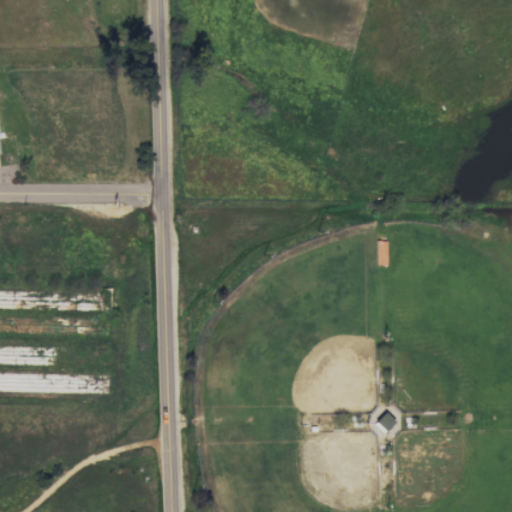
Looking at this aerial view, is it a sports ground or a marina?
sports ground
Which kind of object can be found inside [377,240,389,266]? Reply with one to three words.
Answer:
shed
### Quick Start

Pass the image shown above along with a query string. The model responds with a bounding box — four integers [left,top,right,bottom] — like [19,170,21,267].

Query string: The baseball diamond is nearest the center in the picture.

[203,232,376,412]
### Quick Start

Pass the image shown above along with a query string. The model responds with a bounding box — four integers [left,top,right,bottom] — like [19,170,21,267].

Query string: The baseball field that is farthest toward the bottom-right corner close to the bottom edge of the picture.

[397,432,512,512]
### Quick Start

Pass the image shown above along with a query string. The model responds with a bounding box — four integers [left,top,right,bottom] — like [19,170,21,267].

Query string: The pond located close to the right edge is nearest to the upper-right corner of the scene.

[456,101,512,201]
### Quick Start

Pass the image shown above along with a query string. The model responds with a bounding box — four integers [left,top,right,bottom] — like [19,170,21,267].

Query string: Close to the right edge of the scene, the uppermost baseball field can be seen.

[396,226,512,410]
